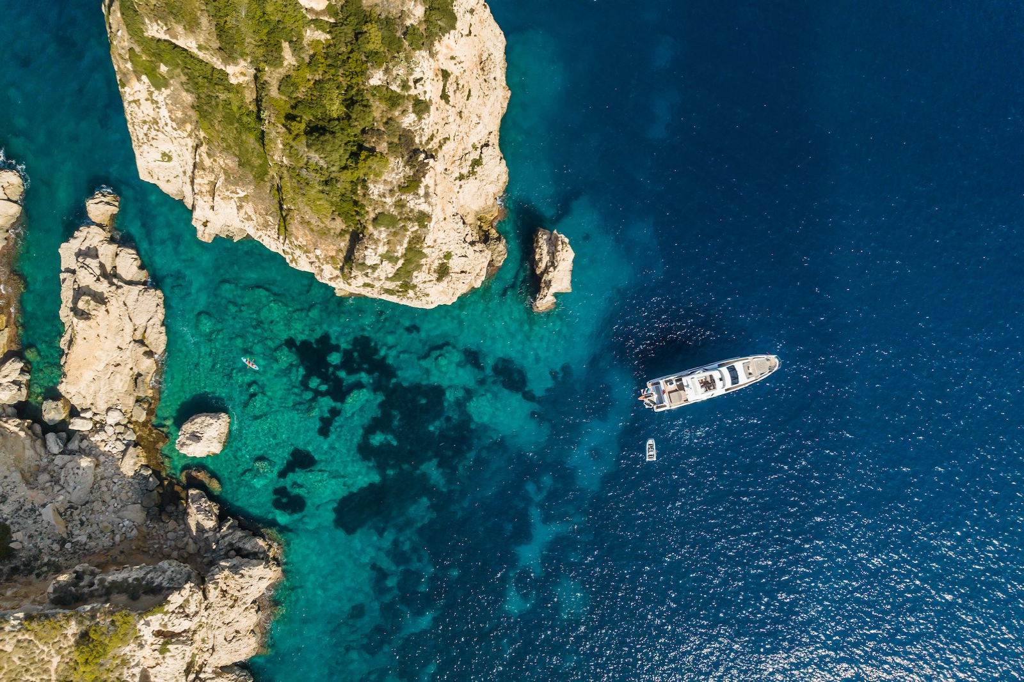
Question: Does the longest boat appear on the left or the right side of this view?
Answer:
right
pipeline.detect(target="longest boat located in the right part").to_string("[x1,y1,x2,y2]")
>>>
[639,355,782,409]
